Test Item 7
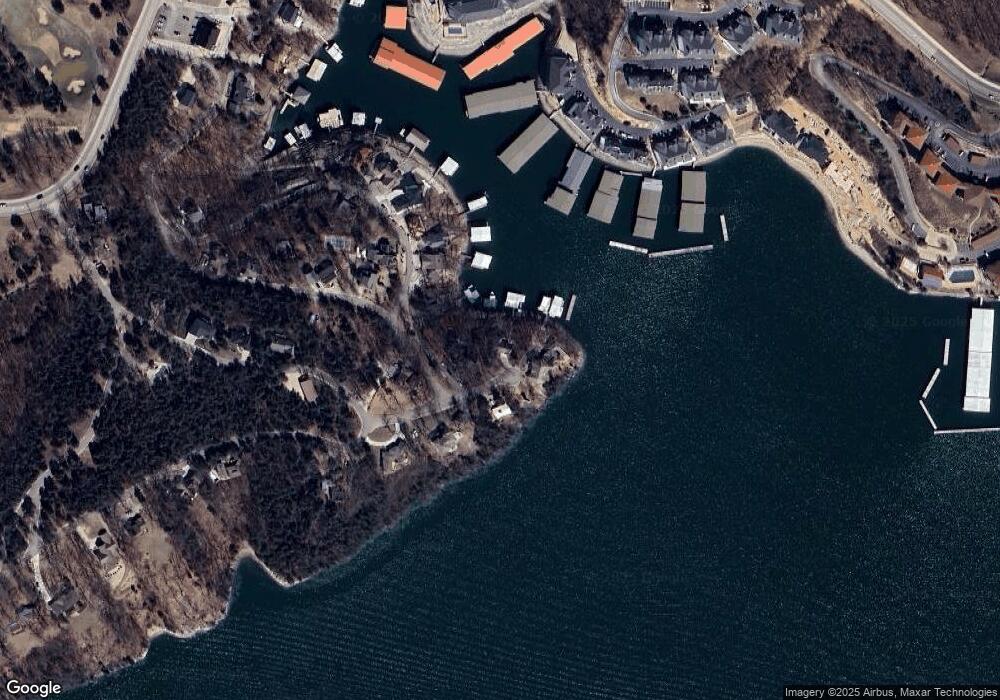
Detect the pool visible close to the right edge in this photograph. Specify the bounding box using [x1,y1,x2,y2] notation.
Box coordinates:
[947,269,978,285]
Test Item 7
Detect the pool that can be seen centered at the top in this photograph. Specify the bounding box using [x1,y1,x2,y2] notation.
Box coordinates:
[444,22,466,37]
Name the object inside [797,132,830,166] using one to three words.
house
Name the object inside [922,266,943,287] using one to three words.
building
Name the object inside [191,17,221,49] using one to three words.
building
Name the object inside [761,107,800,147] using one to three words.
house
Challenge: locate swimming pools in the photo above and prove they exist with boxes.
[947,269,978,285]
[444,22,466,37]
